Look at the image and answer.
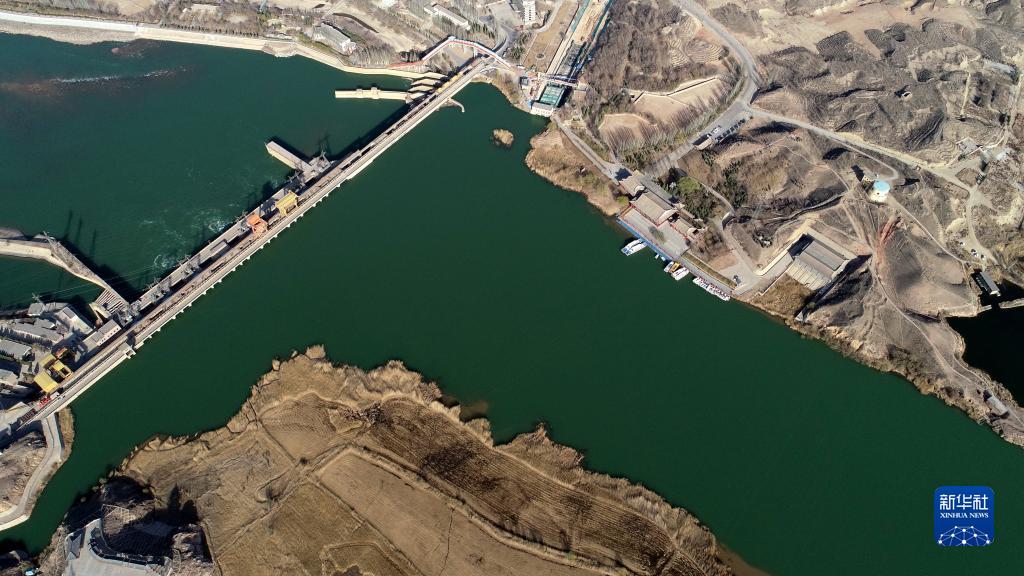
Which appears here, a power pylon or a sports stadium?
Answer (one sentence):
The one in the frame is a power pylon.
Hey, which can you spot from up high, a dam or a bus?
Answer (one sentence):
It is a dam that can be seen here.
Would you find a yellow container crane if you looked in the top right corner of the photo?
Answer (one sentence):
No, there is no yellow container crane in the top right corner of the photo.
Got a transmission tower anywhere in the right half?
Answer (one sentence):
No, in the right half there is no transmission tower.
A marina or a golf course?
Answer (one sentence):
It's a marina.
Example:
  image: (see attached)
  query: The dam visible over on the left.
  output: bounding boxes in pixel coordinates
[9,53,496,438]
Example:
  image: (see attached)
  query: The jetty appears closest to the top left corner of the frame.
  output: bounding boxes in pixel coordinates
[267,143,309,174]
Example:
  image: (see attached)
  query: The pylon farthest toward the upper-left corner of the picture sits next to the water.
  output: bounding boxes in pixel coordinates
[36,230,60,254]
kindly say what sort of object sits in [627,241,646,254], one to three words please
boat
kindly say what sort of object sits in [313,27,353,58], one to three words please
building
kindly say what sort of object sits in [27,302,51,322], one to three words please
building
